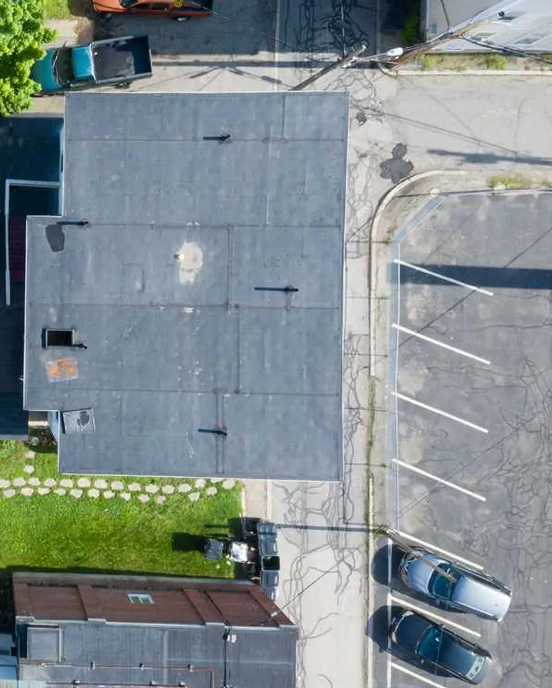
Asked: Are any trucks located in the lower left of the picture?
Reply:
No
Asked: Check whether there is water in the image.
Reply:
No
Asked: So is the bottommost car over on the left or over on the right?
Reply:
right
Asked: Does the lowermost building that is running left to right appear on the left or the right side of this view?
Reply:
left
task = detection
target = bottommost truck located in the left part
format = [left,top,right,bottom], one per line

[31,38,152,95]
